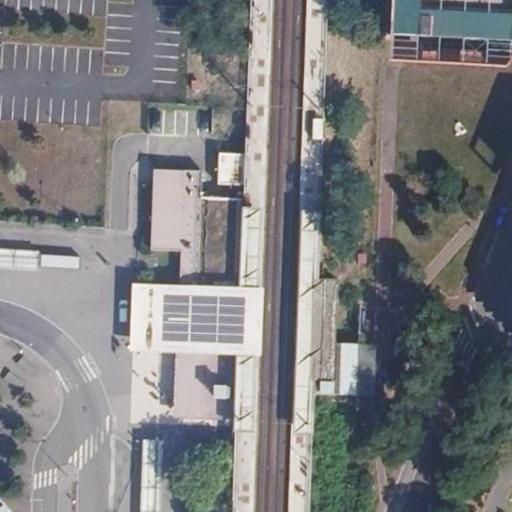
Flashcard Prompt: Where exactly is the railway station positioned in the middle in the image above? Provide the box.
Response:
[129,0,325,512]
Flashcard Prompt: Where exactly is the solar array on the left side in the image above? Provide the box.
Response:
[160,294,246,346]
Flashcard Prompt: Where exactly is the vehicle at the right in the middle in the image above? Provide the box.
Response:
[496,204,509,226]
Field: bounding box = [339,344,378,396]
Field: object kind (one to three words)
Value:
building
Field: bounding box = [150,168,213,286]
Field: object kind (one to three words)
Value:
building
